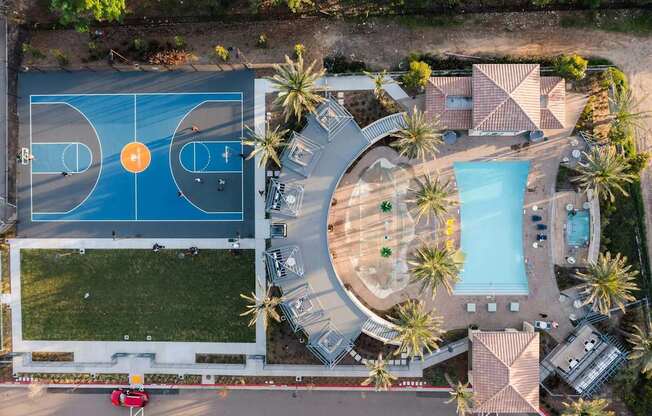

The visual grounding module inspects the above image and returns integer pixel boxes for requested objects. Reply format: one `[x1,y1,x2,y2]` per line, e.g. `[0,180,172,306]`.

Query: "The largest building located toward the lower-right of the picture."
[467,327,542,415]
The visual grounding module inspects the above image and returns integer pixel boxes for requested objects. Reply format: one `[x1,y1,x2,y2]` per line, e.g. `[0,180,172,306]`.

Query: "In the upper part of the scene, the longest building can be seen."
[424,63,567,138]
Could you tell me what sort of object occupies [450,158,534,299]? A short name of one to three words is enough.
swimming pool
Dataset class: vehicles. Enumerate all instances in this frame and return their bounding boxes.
[113,389,150,408]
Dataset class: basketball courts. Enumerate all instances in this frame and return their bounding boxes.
[18,72,254,238]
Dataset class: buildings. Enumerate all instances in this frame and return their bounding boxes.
[424,63,567,138]
[467,327,542,415]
